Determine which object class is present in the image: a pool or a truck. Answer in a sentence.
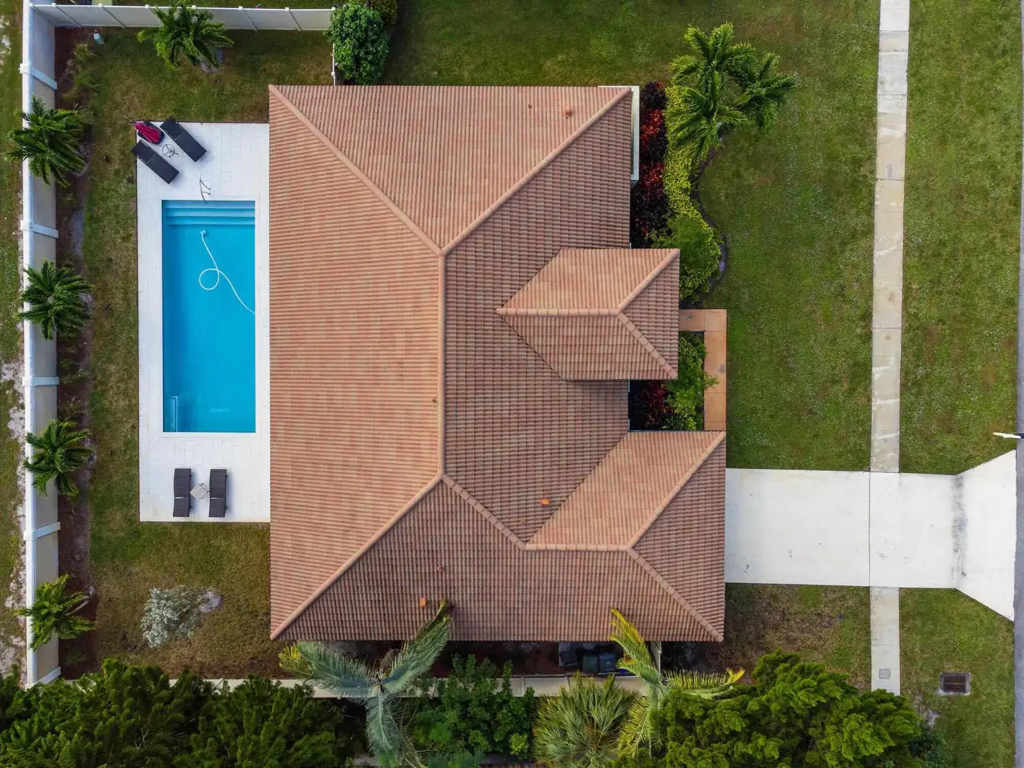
It is a pool that can be seen here.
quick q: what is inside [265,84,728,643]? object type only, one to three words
house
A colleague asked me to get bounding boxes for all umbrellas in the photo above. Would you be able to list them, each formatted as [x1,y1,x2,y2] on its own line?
[124,117,160,143]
